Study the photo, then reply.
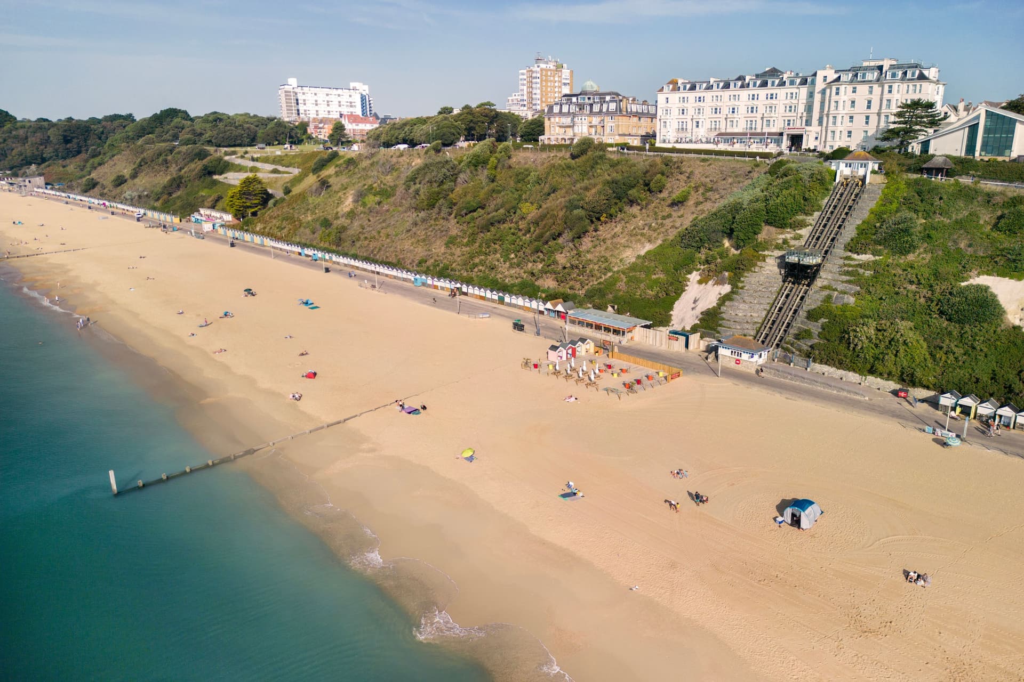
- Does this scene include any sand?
Yes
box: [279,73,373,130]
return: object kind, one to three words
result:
building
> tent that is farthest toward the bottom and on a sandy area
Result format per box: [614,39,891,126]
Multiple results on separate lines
[784,500,831,531]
